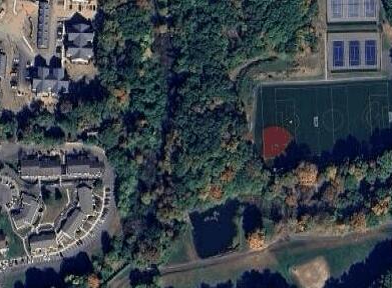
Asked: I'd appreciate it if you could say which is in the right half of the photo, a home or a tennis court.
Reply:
tennis court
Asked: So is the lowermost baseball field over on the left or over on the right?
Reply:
right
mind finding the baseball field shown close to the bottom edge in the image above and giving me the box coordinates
[289,255,333,288]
